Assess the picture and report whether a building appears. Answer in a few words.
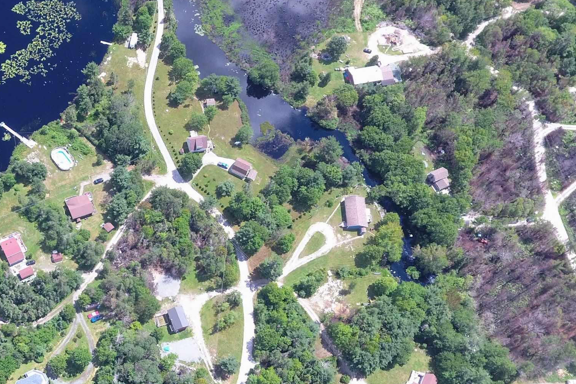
Yes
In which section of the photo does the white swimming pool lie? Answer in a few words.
left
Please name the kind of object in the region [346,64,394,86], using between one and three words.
house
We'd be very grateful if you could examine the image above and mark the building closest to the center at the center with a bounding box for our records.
[230,159,258,181]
